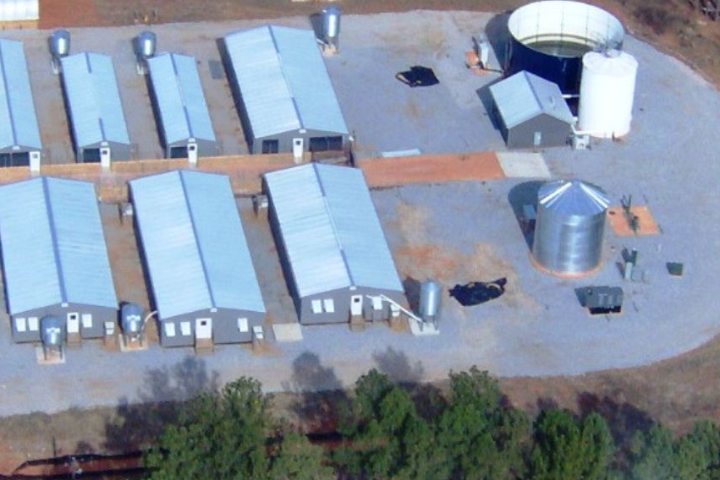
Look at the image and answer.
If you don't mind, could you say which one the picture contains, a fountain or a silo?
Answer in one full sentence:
The one in the frame is a silo.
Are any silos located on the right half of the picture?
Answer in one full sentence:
Yes, you'll find a silo on the right half of the picture.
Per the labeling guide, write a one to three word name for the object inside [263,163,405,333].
building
